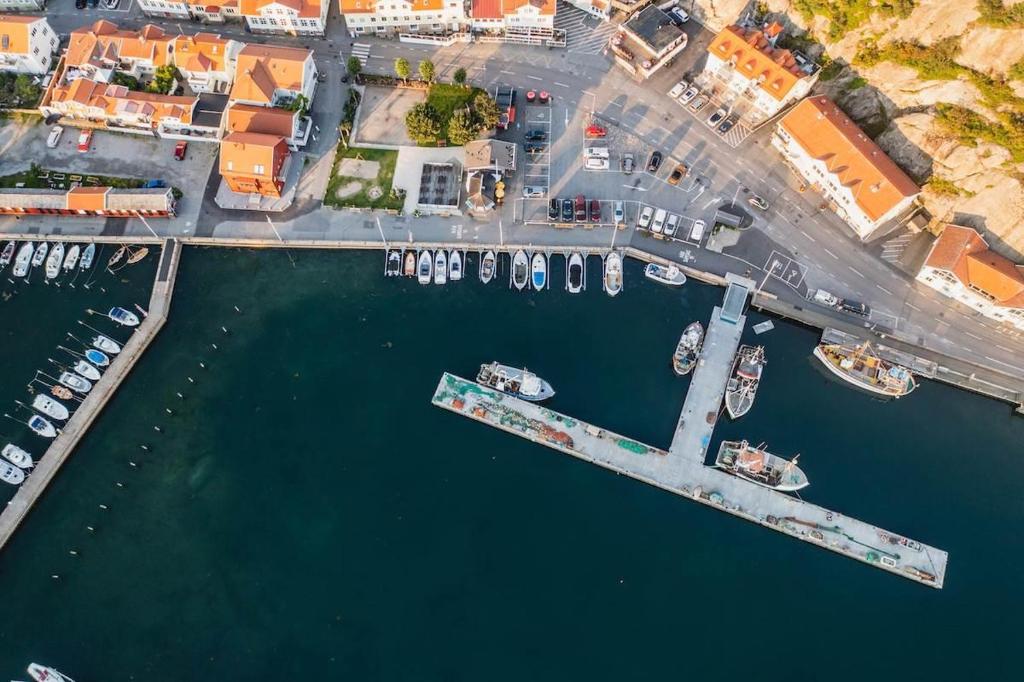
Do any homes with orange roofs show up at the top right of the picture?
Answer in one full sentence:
Yes, I can see a home with an orange roof at the top right of the picture.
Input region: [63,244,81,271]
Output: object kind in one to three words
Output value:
boat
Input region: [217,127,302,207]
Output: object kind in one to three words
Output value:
house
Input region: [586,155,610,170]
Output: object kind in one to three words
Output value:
vehicle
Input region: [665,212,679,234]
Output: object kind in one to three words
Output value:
car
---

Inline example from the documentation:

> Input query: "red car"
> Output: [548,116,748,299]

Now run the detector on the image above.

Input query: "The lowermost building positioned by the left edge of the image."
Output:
[0,186,177,217]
